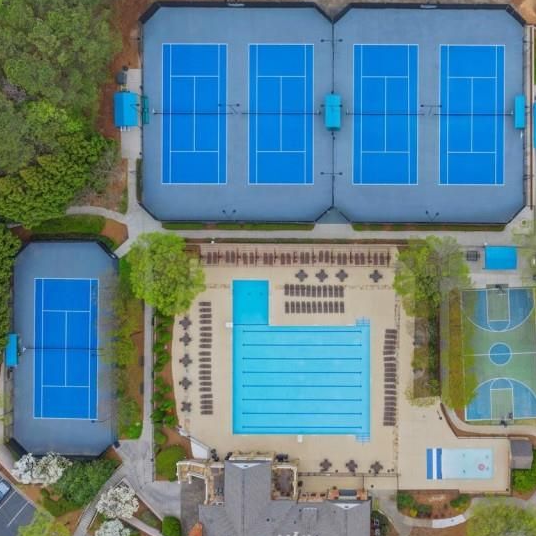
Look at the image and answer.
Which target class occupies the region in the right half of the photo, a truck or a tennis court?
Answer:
tennis court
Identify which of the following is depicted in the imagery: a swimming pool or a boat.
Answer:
swimming pool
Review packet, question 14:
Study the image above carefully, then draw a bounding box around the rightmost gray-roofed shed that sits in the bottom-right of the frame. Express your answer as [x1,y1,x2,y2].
[509,438,535,470]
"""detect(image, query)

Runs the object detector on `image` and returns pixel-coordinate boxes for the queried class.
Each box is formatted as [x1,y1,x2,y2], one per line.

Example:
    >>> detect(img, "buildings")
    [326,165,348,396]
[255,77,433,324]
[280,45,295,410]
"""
[509,438,535,470]
[197,457,372,536]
